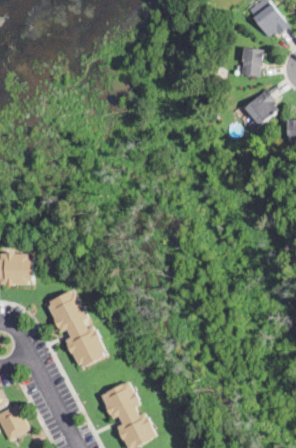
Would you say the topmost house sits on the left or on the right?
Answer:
right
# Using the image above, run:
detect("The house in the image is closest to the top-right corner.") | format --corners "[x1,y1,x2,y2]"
[250,0,292,38]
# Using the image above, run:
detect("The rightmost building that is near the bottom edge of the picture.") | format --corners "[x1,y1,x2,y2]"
[103,380,162,448]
